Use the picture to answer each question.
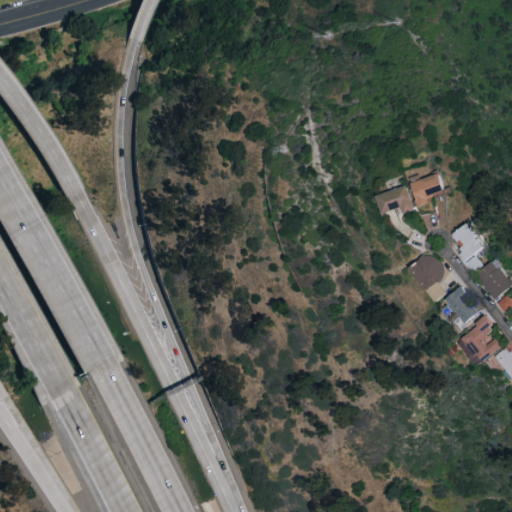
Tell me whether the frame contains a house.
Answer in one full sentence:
Yes, looking at the shot, I can spot a house.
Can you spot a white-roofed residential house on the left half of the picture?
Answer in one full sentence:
No, on the left half of the picture there is no white-roofed residential house.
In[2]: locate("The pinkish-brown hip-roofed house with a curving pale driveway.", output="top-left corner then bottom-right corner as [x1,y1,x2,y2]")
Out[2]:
[375,186,413,215]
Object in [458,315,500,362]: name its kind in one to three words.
house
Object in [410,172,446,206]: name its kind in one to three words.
house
